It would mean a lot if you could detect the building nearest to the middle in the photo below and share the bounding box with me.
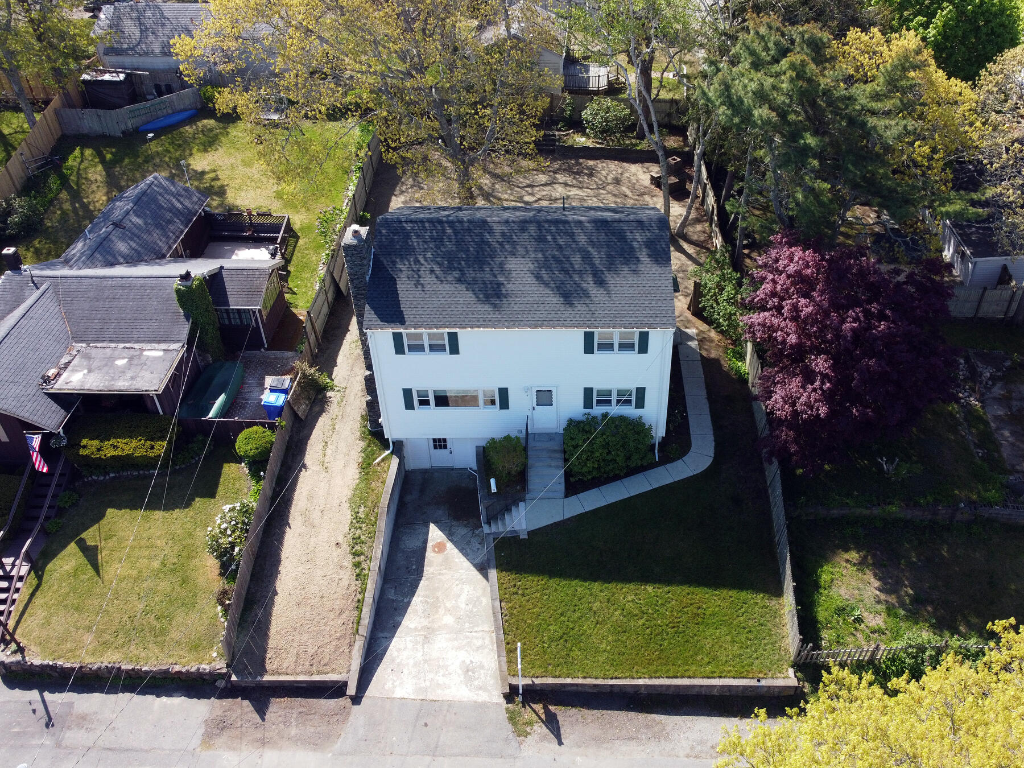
[338,207,678,468]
